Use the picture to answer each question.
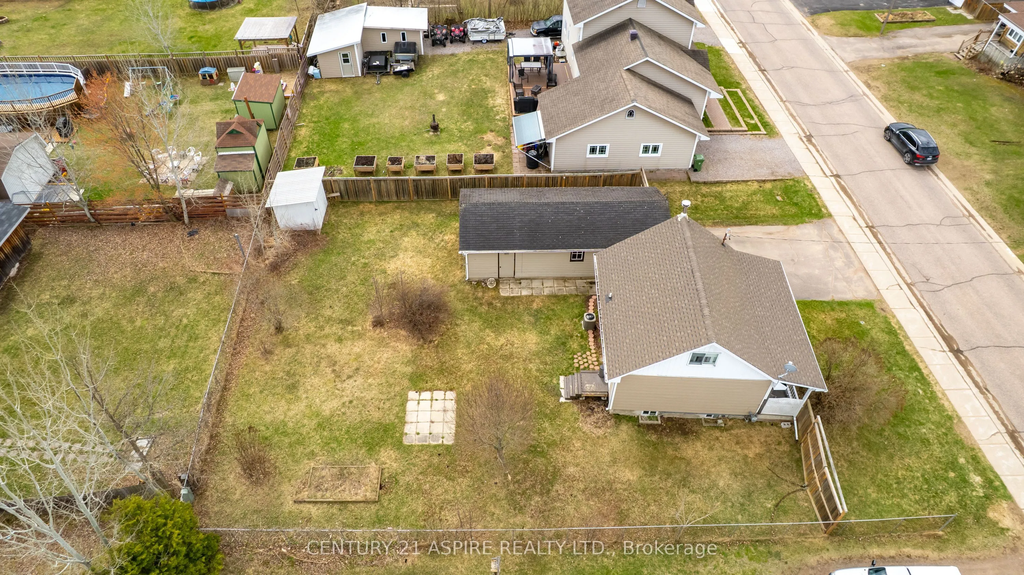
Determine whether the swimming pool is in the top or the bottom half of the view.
top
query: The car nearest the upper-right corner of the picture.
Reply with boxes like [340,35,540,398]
[885,126,940,167]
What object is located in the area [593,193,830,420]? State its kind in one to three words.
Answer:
house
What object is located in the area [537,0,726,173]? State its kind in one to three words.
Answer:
house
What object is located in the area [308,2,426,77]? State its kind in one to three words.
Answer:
building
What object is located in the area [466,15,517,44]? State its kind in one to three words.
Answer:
vehicle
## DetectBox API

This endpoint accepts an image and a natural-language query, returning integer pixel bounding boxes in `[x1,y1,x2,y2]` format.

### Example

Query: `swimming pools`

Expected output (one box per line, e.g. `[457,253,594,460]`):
[0,59,88,110]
